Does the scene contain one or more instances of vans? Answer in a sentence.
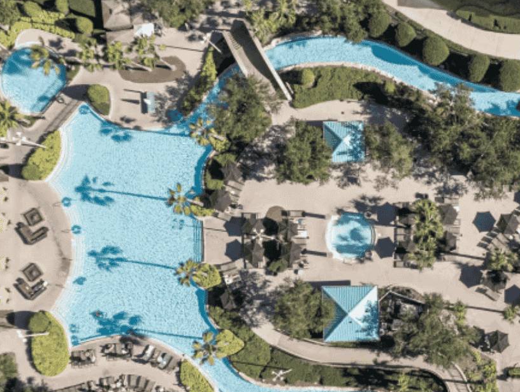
No, I find no van anywhere in the image.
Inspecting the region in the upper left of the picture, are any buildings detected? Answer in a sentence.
Yes, you'll find a building in the upper left of the picture.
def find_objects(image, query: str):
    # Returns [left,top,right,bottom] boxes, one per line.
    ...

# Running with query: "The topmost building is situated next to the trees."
[102,0,143,29]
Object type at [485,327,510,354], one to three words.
umbrella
